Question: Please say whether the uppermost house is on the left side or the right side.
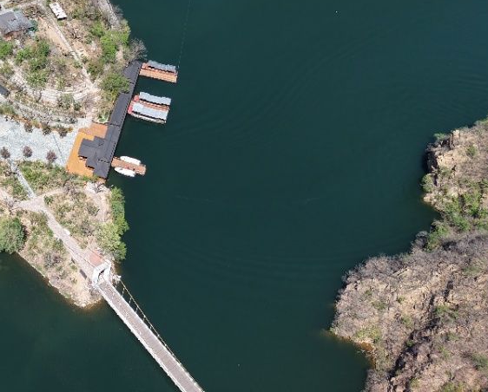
left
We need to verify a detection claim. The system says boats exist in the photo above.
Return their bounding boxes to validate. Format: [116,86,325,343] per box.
[132,94,172,109]
[129,105,170,125]
[143,62,178,76]
[119,156,142,165]
[113,168,137,178]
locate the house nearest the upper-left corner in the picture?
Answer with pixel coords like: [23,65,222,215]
[0,9,34,40]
